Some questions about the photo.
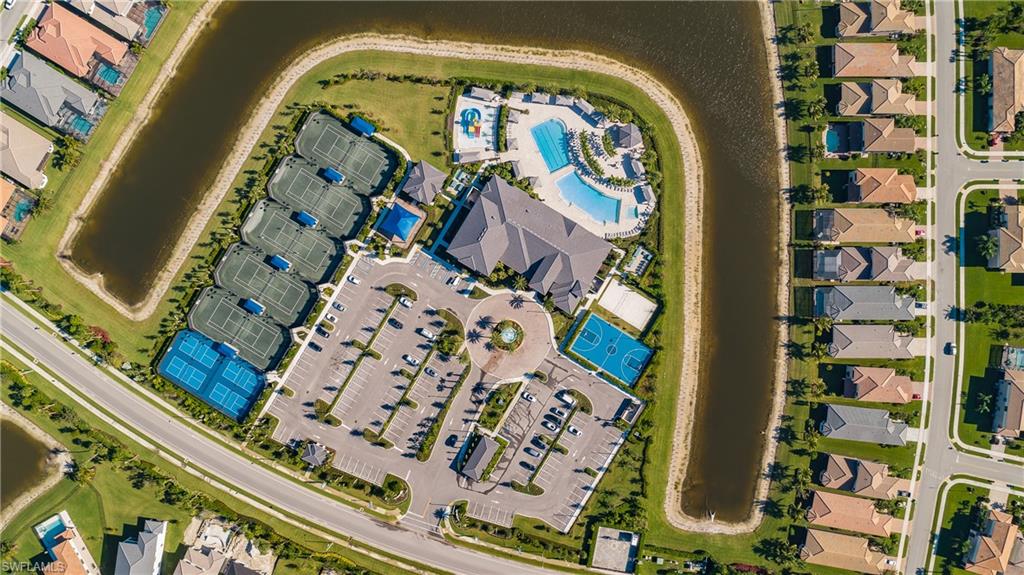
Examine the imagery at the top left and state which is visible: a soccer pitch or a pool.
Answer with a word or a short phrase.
pool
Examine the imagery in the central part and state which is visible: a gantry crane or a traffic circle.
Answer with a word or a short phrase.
traffic circle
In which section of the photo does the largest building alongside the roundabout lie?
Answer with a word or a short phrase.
center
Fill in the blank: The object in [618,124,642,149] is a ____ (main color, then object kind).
gray gazebo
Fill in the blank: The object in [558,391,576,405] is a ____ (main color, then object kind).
white vehicle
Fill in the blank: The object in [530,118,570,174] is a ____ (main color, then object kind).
blue swimming pool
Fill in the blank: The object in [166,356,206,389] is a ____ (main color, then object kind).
blue sports court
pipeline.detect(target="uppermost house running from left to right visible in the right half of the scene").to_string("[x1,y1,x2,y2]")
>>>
[835,0,915,37]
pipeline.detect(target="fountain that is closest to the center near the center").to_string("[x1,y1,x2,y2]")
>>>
[501,327,517,343]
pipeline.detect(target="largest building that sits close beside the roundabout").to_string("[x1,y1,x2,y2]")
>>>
[447,175,613,317]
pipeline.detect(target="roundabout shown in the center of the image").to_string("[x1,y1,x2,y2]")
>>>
[466,292,551,378]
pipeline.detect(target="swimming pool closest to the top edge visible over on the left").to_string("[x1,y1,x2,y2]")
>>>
[145,6,161,39]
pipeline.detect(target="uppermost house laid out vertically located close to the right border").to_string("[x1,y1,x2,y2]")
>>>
[989,47,1024,132]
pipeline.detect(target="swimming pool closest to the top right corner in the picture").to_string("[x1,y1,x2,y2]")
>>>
[826,129,841,153]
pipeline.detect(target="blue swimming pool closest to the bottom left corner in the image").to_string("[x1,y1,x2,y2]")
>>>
[43,519,67,548]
